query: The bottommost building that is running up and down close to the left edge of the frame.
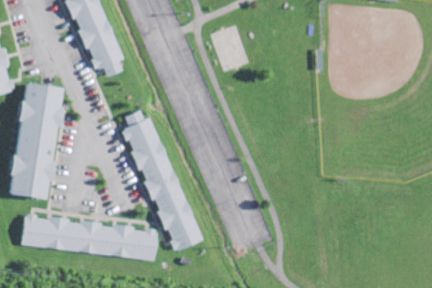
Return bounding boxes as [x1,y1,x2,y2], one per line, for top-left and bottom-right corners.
[10,82,62,200]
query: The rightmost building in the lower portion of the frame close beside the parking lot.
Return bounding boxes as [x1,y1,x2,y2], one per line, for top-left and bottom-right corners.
[123,117,203,252]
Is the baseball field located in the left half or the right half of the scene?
right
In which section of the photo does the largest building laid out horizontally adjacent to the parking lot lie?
bottom left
